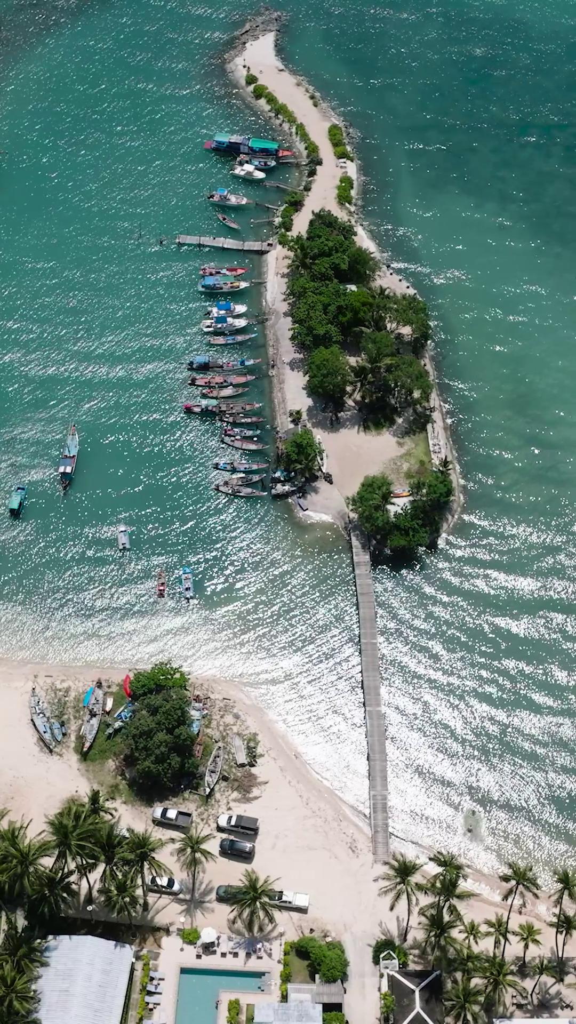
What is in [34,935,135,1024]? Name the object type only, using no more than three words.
house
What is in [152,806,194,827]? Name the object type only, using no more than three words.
truck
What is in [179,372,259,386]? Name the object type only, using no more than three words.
boat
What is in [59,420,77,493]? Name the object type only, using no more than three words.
boat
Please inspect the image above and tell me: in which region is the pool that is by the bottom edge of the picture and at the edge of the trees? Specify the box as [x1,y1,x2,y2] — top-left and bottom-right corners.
[149,937,284,1024]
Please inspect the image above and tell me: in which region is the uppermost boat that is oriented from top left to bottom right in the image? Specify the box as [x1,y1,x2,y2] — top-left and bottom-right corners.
[216,212,241,231]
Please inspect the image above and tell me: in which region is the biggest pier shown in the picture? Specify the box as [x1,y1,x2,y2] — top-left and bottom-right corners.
[175,230,277,257]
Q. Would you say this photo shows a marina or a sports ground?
marina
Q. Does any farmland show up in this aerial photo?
No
